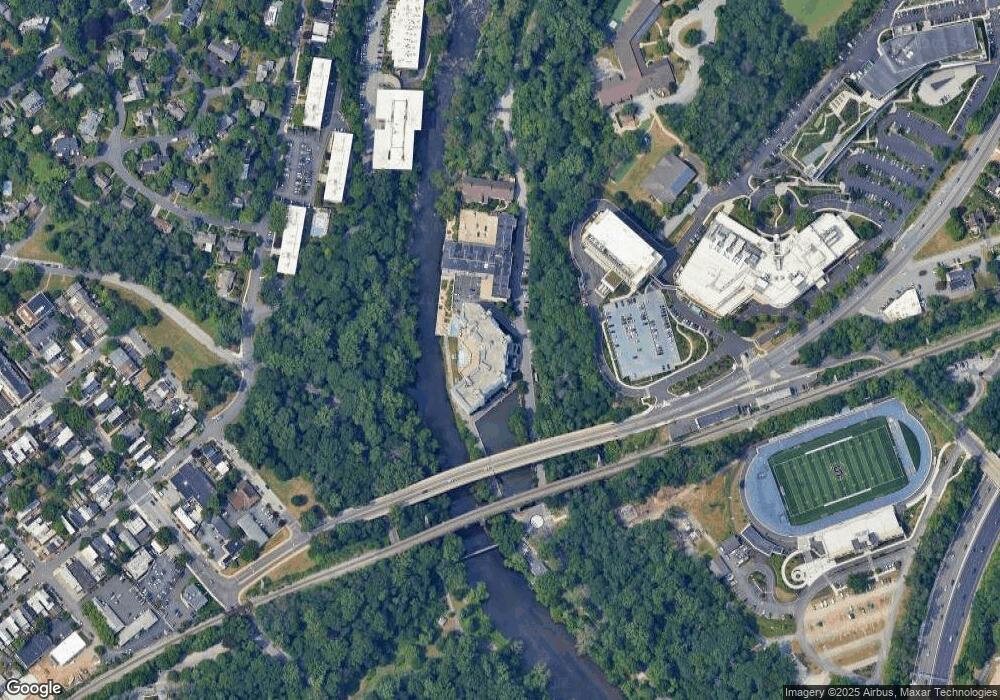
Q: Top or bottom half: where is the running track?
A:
bottom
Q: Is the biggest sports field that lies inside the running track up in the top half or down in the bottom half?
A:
bottom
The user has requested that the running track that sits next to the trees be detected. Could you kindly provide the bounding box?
[744,396,934,537]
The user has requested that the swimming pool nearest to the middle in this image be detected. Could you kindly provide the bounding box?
[448,315,462,337]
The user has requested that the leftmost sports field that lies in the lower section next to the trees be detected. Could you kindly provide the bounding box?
[770,418,908,522]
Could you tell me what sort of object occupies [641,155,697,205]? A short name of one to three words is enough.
building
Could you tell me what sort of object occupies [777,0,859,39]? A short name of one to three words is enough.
sports field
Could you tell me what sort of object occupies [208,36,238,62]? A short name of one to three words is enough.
house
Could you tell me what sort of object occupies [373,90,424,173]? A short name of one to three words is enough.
building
